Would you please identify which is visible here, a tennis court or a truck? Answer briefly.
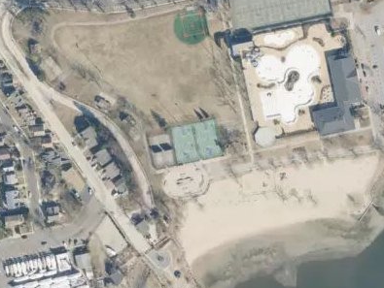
tennis court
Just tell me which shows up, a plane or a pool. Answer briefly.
pool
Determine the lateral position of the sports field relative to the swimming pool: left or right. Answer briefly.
to its left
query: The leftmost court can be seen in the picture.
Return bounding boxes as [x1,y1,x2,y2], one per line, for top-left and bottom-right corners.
[148,132,175,170]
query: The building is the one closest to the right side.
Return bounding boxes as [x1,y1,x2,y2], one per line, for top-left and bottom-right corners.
[310,48,365,138]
